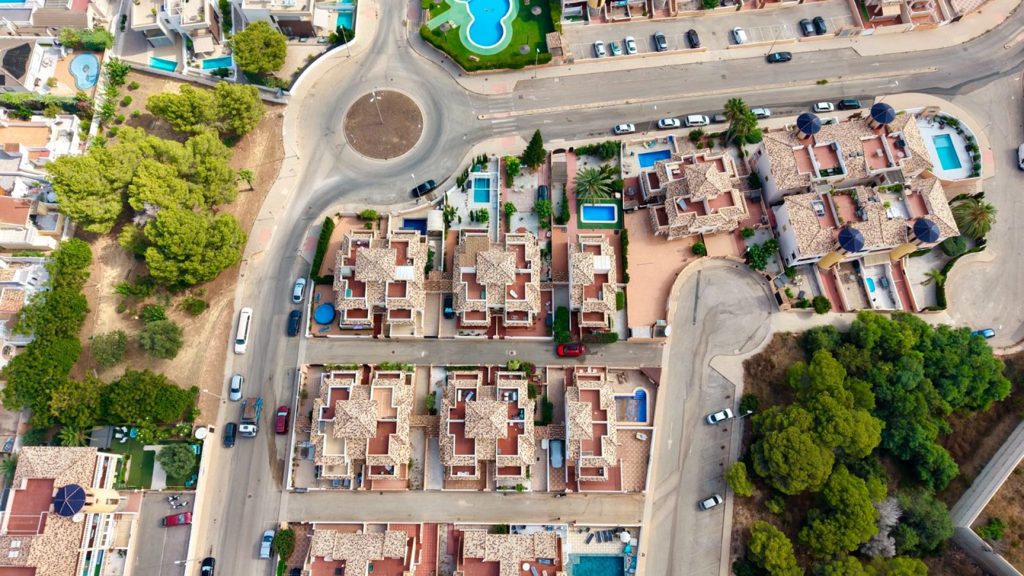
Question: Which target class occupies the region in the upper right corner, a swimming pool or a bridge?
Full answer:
There is a swimming pool in the upper right corner.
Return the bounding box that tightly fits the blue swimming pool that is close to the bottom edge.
[570,556,625,576]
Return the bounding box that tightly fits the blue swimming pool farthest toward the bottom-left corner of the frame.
[312,303,337,327]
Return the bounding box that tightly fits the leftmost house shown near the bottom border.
[0,447,129,576]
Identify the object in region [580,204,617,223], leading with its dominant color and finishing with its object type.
blue swimming pool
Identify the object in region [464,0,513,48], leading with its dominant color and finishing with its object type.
blue swimming pool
